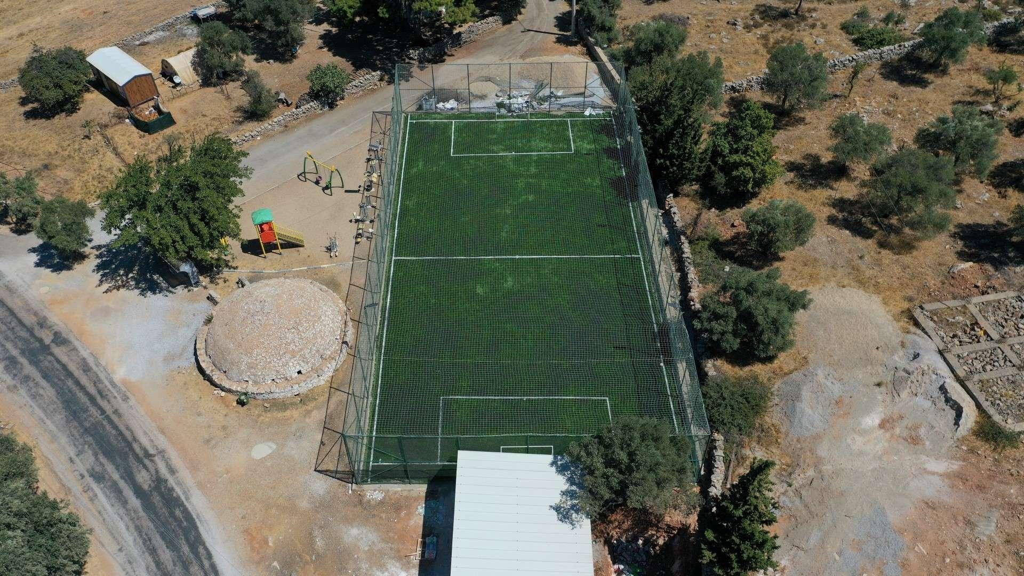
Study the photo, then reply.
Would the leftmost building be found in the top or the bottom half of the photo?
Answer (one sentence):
Seen from above, the leftmost building lies in the top half of the view.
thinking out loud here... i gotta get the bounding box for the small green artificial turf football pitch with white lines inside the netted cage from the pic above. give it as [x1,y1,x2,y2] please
[353,109,709,493]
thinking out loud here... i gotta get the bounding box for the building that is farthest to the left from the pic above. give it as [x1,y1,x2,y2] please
[88,49,161,110]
